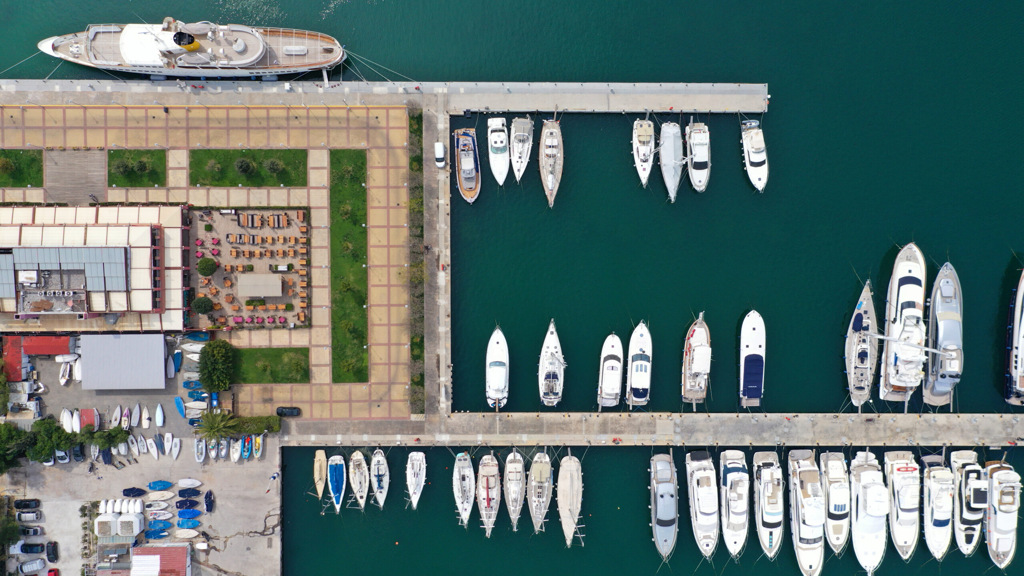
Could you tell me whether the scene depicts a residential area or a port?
port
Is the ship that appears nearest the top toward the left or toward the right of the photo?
left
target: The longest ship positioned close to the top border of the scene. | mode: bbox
[1,11,418,87]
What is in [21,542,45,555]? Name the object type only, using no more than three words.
vehicle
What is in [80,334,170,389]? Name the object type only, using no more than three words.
building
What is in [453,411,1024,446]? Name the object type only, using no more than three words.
pier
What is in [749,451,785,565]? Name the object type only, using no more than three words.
boat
